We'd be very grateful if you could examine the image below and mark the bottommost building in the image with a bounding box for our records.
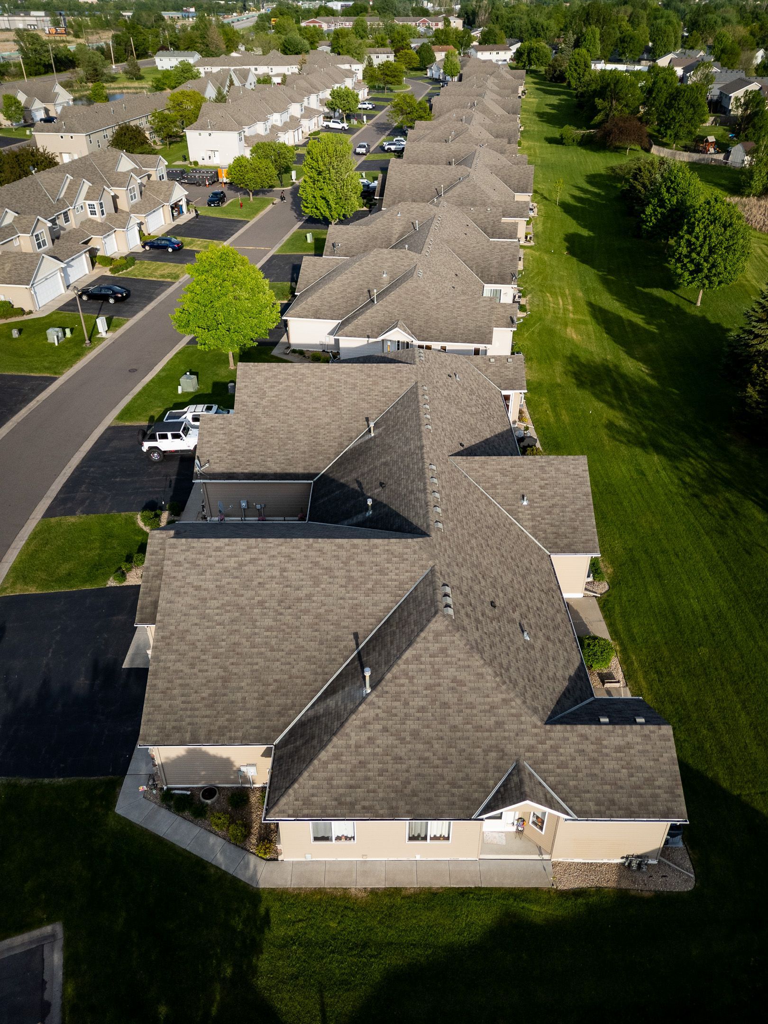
[134,342,694,881]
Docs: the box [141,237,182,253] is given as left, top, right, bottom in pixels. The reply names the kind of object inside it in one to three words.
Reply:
car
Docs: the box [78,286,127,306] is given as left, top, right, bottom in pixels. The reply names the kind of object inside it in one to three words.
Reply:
car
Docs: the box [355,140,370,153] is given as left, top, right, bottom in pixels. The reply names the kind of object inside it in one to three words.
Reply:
vehicle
